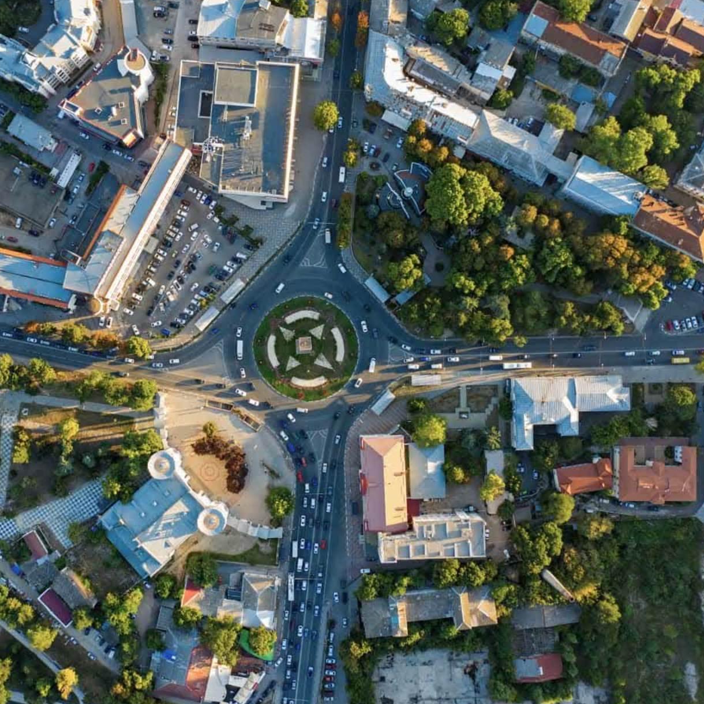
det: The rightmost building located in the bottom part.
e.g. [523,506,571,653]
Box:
[606,436,696,506]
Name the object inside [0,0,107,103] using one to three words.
building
